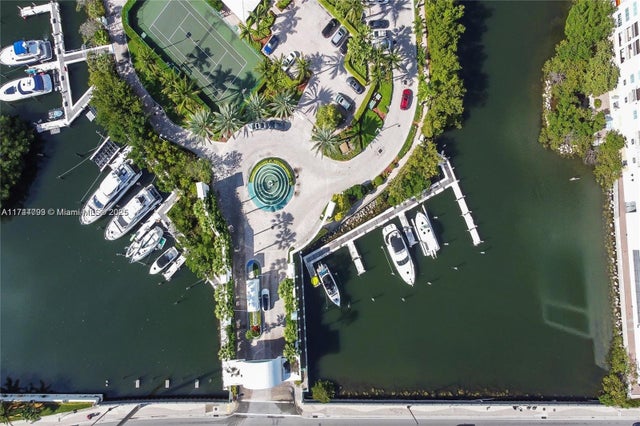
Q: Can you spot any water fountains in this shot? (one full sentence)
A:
Yes, a water fountain appears in the view.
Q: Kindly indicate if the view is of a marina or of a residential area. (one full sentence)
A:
It's a marina.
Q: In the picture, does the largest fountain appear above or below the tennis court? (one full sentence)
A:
As seen from overhead, the largest fountain falls below the tennis court in the picture.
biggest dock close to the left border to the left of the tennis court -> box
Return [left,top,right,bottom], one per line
[21,2,99,133]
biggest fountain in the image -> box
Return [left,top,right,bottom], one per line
[248,156,295,212]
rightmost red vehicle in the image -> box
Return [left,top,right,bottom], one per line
[399,88,414,111]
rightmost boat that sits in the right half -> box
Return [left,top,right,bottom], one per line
[417,212,439,257]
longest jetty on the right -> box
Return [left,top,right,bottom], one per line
[304,155,482,284]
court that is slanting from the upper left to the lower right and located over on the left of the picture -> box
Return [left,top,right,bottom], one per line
[129,0,268,125]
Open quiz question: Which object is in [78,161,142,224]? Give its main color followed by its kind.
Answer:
white boat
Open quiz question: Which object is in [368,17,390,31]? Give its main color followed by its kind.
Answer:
black vehicle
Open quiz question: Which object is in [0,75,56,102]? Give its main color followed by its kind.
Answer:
white boat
